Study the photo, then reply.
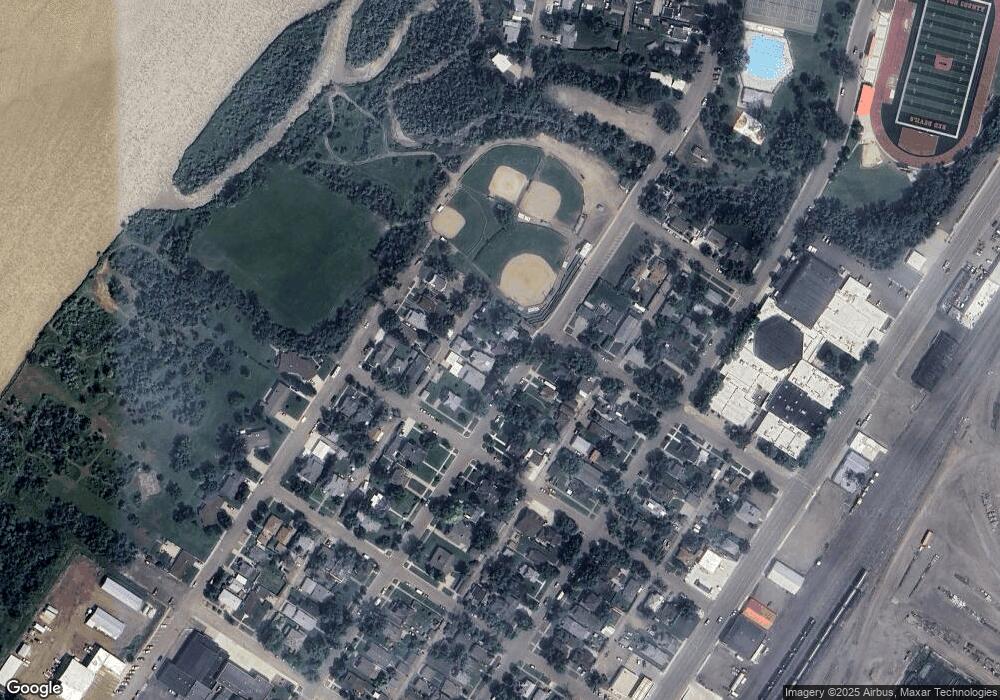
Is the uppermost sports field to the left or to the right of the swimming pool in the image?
on the right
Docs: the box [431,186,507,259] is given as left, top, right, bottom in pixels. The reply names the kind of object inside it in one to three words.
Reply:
baseball field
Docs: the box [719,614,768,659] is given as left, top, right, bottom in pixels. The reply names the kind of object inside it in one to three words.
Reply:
building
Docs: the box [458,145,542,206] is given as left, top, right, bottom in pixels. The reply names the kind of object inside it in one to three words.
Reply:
baseball field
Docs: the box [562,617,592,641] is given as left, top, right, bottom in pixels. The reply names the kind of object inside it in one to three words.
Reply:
house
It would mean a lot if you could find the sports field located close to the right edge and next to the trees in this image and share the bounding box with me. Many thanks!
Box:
[884,0,997,155]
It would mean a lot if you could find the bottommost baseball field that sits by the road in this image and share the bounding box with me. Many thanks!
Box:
[473,223,569,310]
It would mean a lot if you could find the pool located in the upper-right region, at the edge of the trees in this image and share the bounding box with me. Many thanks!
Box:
[739,27,793,94]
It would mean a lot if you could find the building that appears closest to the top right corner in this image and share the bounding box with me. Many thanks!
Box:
[857,85,876,114]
